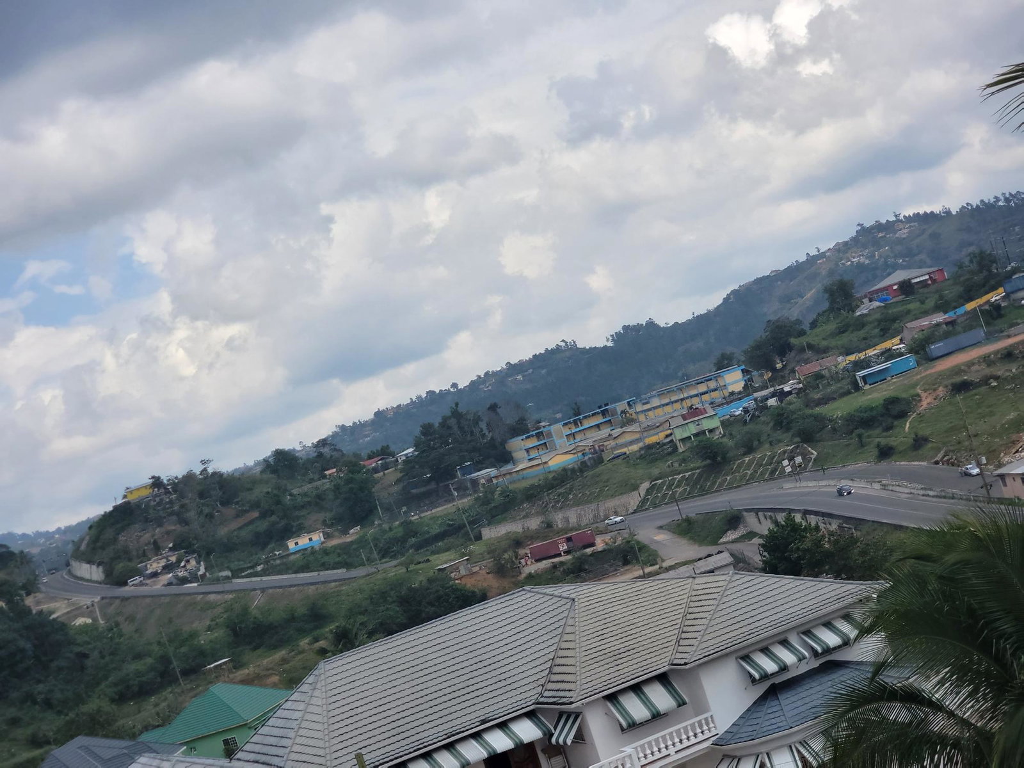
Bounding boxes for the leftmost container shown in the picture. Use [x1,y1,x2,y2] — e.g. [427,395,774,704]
[520,530,602,564]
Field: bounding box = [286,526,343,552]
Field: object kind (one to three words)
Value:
building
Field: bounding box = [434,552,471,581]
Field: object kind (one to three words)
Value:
shed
